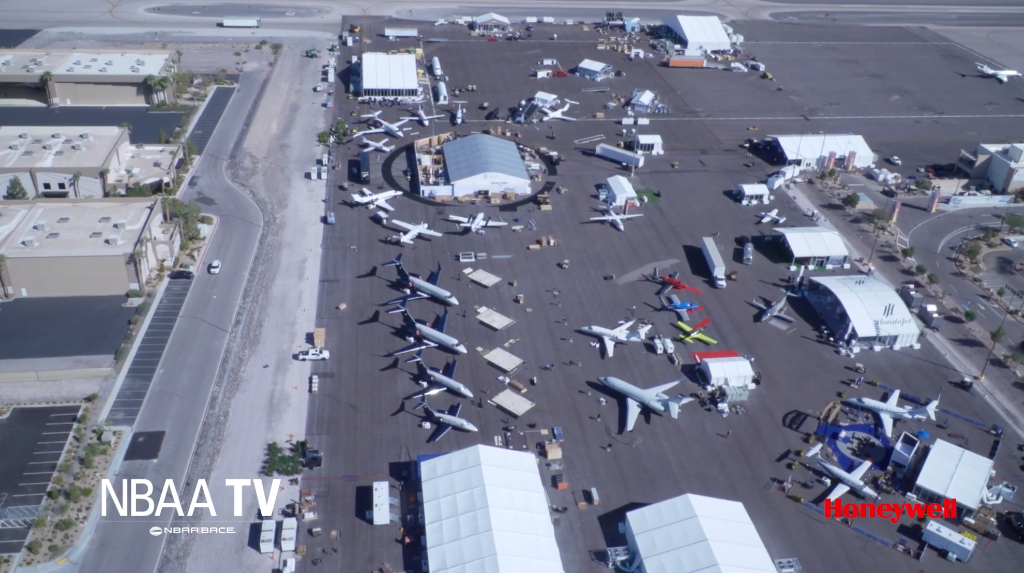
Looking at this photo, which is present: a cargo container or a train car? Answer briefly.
cargo container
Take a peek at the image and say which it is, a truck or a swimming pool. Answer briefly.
truck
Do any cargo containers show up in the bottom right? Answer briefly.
Yes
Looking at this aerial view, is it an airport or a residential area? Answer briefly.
airport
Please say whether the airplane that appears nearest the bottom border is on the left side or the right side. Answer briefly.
right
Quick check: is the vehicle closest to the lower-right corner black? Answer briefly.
Yes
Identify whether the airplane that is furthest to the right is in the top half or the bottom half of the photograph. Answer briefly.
top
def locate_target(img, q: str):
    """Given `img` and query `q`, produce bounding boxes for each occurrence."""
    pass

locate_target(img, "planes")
[398,346,473,400]
[357,132,388,154]
[597,379,709,437]
[800,435,883,502]
[372,252,458,306]
[844,392,952,439]
[657,293,699,318]
[753,284,804,323]
[677,319,719,342]
[399,97,445,127]
[348,188,402,211]
[435,18,453,26]
[348,108,407,139]
[449,214,508,233]
[974,60,1024,81]
[376,296,466,355]
[650,267,691,294]
[393,219,445,242]
[759,198,799,218]
[542,96,580,121]
[410,389,477,437]
[590,197,643,232]
[440,98,478,126]
[578,318,659,360]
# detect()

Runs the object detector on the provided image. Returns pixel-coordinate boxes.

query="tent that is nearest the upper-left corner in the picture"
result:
[362,54,418,97]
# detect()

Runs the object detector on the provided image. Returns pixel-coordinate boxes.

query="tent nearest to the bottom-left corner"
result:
[416,443,569,573]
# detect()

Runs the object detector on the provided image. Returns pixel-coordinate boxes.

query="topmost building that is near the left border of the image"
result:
[0,48,184,106]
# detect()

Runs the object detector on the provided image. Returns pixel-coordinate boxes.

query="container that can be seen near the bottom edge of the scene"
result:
[923,518,977,561]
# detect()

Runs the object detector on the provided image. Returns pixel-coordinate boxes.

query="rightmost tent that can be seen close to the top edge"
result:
[660,15,730,51]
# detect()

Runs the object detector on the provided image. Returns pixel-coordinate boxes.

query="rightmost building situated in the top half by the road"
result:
[921,140,1024,197]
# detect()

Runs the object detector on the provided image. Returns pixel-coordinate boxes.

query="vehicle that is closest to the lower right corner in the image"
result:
[1001,507,1024,531]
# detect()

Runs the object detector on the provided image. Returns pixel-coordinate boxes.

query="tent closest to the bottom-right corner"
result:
[905,439,996,528]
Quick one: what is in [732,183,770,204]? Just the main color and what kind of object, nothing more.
white tent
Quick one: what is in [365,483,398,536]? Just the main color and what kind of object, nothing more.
white trailer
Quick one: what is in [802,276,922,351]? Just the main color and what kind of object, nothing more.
white tent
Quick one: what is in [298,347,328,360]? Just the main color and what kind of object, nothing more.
white vehicle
